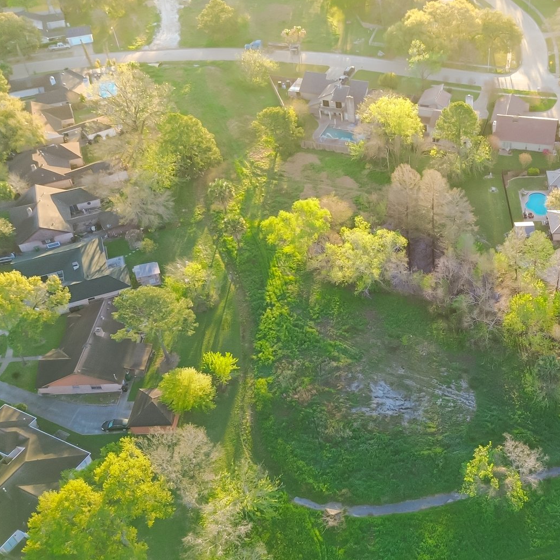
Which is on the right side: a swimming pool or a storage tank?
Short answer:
swimming pool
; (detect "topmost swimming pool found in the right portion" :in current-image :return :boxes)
[318,122,355,141]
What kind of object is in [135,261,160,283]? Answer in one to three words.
shed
